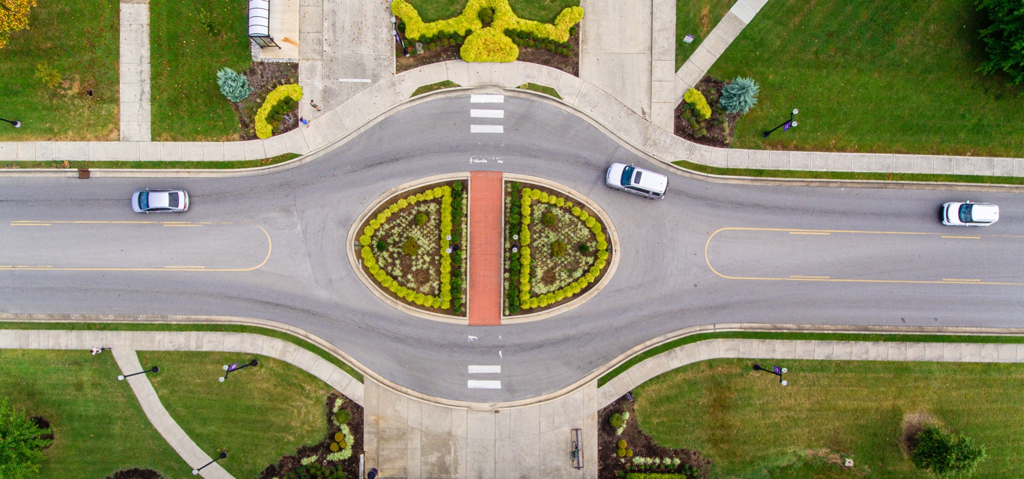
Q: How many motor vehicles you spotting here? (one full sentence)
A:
The number of motor vehicles here is 3.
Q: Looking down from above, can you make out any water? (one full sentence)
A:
No, the picture contains no water.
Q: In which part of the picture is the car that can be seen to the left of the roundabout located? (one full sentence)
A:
You can find the car that can be seen to the left of the roundabout in the left area of the picture.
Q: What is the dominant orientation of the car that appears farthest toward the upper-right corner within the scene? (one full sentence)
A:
The car that appears farthest toward the upper-right corner runs horizontally in the image.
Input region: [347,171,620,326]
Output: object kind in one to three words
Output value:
roundabout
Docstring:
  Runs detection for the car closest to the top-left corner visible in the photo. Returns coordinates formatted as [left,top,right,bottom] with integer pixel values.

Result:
[131,187,191,214]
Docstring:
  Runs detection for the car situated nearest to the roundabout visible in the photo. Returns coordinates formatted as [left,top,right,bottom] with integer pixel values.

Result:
[607,165,666,201]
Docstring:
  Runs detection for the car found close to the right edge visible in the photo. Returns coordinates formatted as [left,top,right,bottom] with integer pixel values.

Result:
[939,199,1000,227]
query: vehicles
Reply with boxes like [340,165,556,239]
[607,165,666,201]
[131,187,191,214]
[939,199,1000,227]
